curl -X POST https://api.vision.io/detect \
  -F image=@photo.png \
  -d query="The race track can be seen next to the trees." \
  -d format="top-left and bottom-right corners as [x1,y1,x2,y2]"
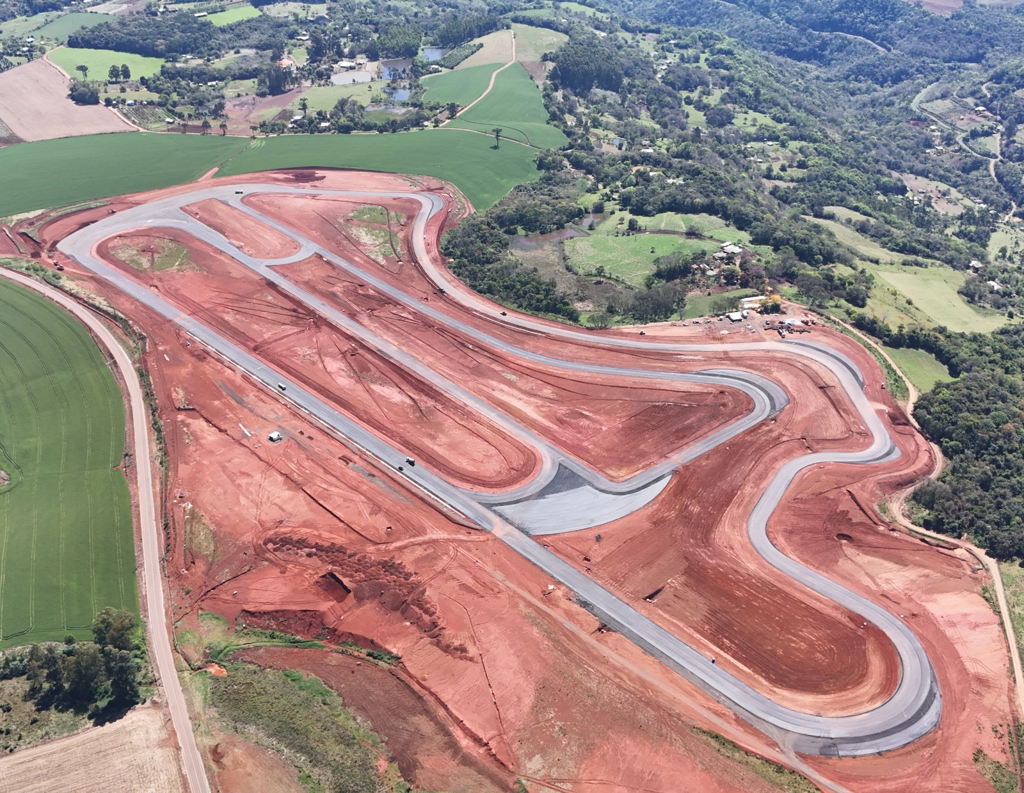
[56,183,942,757]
